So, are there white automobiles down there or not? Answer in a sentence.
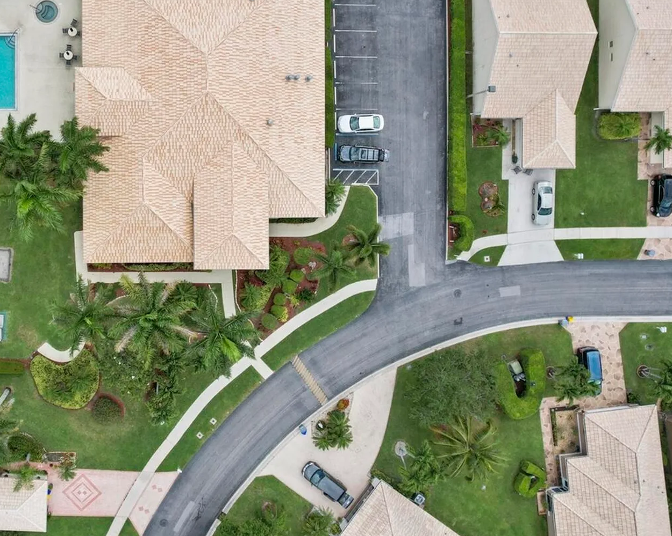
Yes, this view includes a white automobile.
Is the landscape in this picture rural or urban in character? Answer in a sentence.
The area is urban.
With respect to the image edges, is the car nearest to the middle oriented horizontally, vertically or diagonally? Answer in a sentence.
What the image shows is the car nearest to the middle lying horizontally.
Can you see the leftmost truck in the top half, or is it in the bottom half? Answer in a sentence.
The leftmost truck sits in the bottom half of the picture.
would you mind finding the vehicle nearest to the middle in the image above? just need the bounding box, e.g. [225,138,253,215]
[336,143,385,165]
